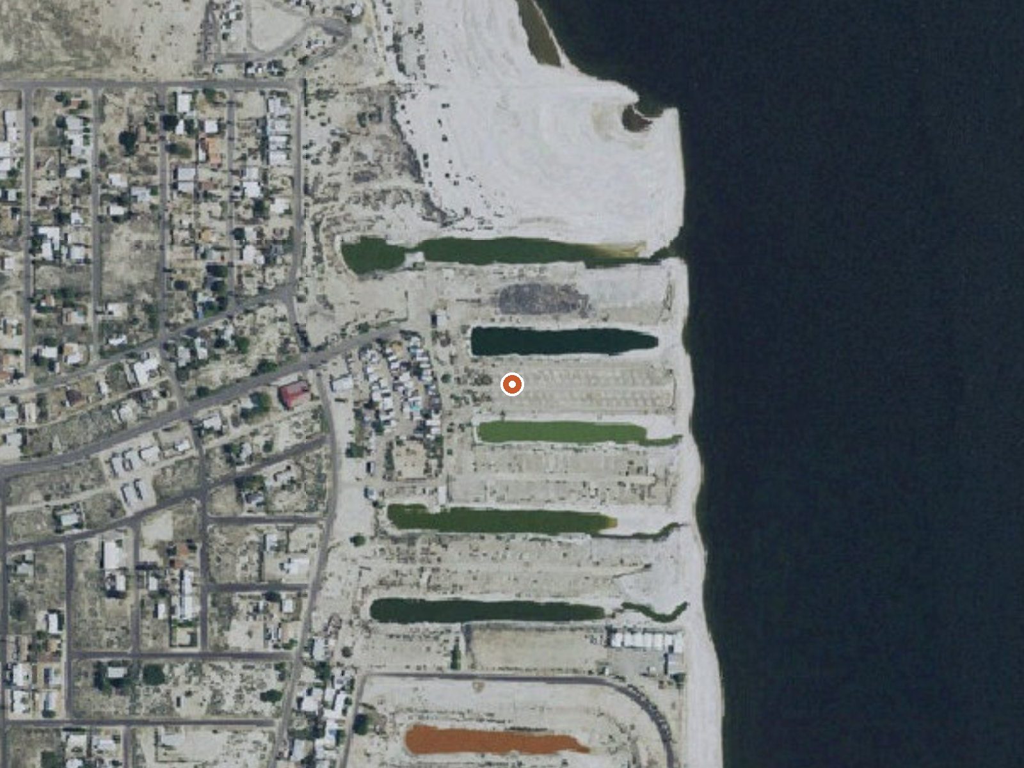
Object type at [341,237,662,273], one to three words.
pond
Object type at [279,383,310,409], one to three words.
house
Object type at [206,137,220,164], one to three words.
house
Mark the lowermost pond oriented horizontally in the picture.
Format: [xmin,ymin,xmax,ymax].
[406,724,590,754]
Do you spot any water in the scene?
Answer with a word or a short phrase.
Yes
